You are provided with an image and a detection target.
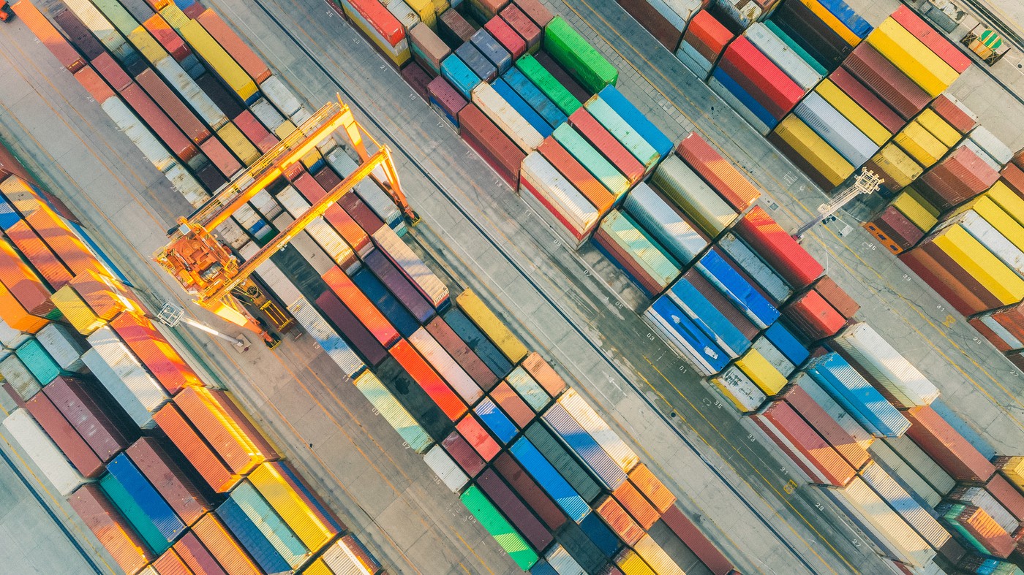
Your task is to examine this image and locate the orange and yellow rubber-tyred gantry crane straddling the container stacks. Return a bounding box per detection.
[126,70,426,356]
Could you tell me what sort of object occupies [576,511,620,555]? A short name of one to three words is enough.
shipping container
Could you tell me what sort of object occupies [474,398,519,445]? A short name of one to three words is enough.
shipping container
